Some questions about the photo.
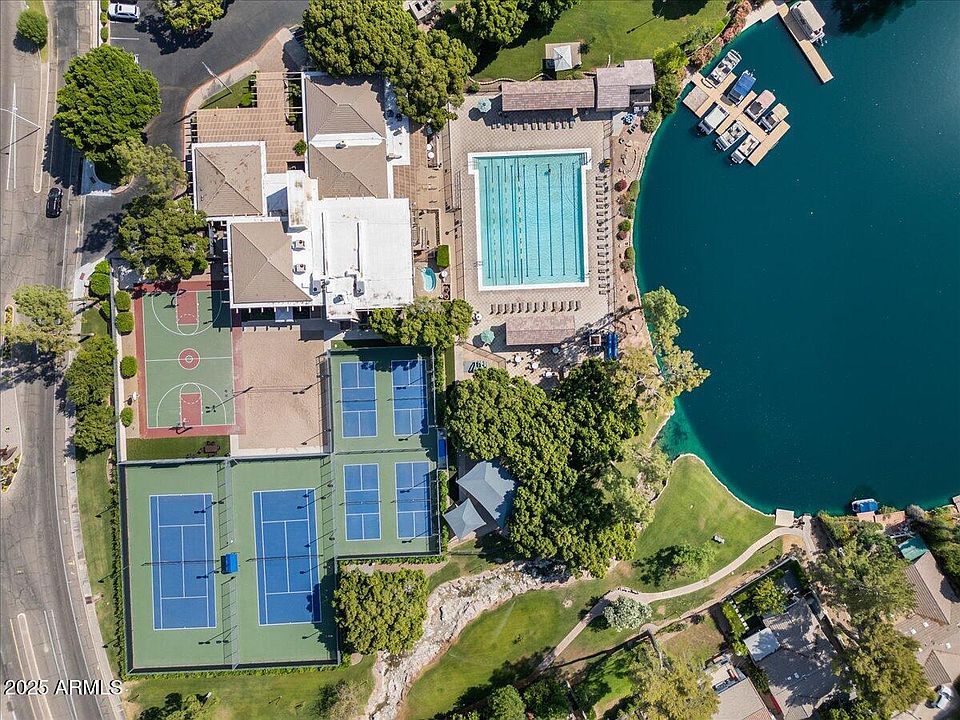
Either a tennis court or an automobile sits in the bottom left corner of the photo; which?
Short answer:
tennis court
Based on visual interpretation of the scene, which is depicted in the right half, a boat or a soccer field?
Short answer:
boat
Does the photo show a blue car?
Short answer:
No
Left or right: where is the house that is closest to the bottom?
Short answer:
right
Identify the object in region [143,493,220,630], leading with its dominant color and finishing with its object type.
blue tennis court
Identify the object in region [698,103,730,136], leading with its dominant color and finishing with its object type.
white boat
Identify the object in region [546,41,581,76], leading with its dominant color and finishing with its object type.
white gazebo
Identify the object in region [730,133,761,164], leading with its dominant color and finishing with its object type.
white boat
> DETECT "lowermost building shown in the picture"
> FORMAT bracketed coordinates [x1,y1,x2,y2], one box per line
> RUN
[716,673,775,720]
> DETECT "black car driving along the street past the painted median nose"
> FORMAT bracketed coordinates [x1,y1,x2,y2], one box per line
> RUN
[42,186,61,217]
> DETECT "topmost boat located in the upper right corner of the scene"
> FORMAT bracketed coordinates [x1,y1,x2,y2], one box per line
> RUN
[792,0,825,42]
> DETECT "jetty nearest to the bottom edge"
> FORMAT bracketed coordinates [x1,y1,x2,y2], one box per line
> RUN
[682,71,790,166]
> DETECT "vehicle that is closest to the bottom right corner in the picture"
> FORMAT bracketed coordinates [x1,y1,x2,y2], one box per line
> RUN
[931,690,953,713]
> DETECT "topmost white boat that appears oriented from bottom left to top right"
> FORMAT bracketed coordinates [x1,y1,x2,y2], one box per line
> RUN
[704,50,743,87]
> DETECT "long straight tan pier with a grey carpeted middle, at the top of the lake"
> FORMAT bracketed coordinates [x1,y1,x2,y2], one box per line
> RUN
[778,4,835,83]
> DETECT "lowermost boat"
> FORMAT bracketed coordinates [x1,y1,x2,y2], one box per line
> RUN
[850,498,880,514]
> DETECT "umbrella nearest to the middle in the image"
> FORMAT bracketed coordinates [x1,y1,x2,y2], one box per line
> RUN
[480,328,495,343]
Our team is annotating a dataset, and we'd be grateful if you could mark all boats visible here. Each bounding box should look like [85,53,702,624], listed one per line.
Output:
[704,50,743,87]
[792,0,825,42]
[698,103,730,136]
[744,85,781,121]
[730,133,761,164]
[758,100,795,133]
[715,120,747,150]
[850,498,880,514]
[728,69,759,103]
